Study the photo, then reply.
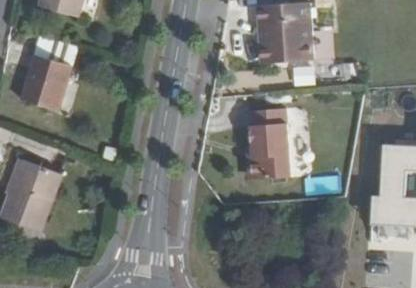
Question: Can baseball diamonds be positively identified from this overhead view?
No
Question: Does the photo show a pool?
Yes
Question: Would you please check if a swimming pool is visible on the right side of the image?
Yes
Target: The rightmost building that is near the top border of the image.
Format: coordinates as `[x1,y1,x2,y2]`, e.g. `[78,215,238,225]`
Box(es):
[256,2,315,64]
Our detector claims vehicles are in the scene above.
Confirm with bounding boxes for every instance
[232,34,242,56]
[171,79,183,99]
[138,194,150,216]
[366,262,389,273]
[366,250,388,261]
